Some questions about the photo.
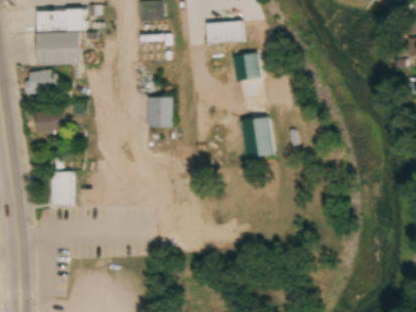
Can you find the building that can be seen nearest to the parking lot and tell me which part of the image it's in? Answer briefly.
left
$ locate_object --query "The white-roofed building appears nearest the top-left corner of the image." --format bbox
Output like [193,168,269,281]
[36,10,68,33]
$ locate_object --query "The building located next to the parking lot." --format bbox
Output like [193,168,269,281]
[50,172,78,206]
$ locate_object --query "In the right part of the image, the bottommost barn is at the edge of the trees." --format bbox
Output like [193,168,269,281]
[242,118,278,158]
